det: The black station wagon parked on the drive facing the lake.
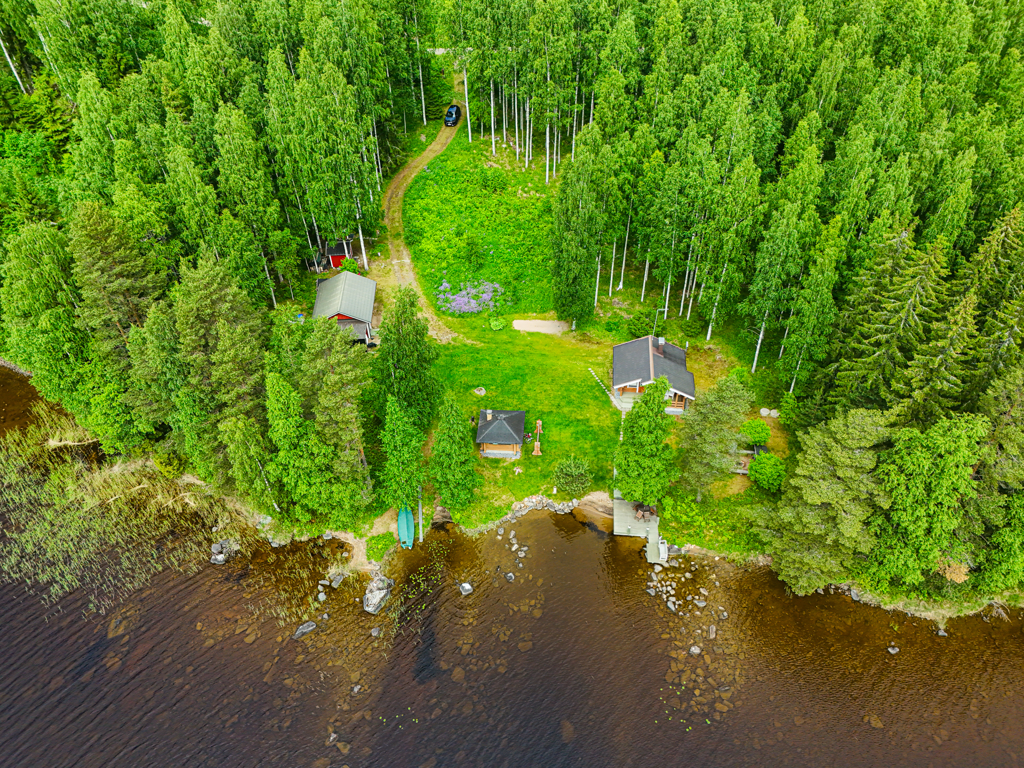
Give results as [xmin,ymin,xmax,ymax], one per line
[444,107,460,128]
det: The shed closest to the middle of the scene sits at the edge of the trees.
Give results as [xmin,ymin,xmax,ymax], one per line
[476,407,525,460]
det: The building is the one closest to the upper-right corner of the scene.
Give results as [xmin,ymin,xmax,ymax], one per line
[612,336,696,417]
